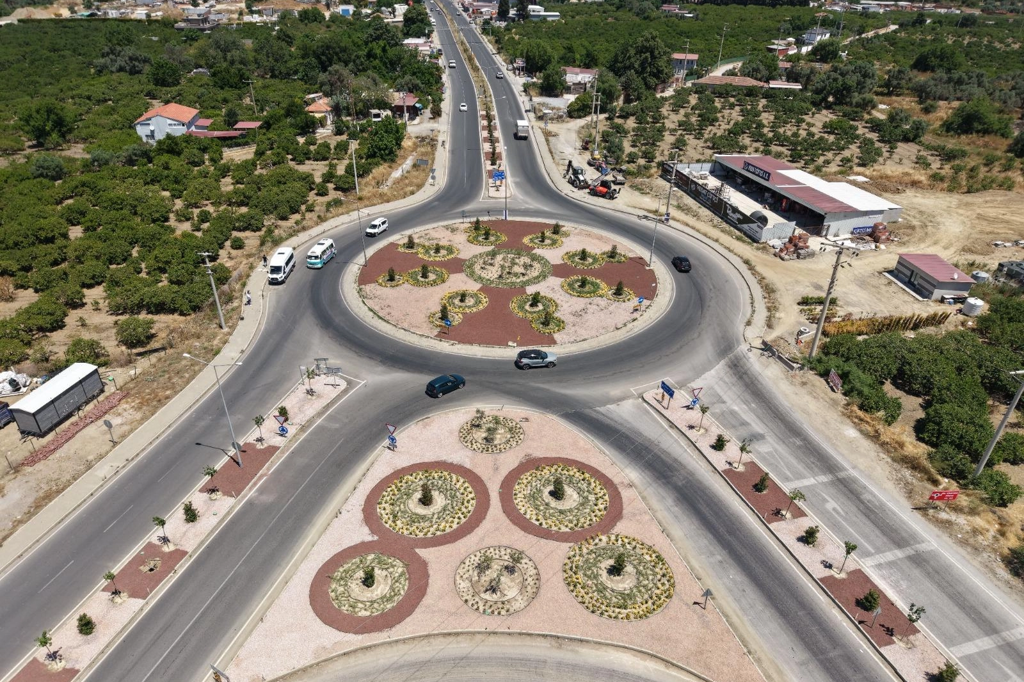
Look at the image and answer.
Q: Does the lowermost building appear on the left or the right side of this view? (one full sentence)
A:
It is on the right.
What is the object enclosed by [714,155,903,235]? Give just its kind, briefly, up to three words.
building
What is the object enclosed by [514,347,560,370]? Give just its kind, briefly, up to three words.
car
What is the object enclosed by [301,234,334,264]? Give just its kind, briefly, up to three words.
vehicle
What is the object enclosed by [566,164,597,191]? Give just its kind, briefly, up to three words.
work vehicle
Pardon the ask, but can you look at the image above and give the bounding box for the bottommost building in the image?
[877,250,983,302]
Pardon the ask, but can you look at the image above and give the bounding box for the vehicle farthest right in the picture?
[668,254,696,272]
